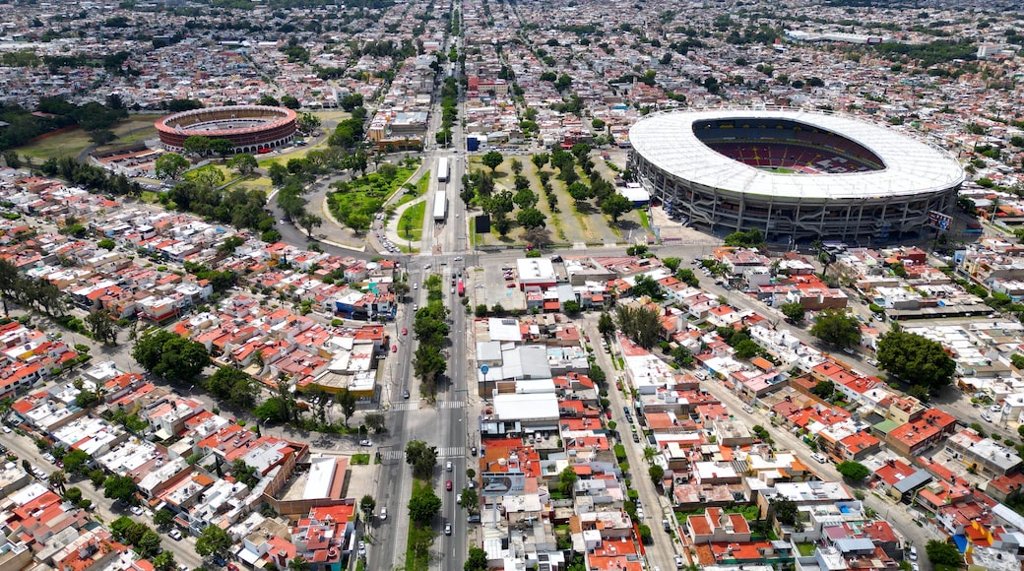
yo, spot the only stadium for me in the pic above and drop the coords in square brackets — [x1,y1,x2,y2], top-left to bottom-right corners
[628,105,965,247]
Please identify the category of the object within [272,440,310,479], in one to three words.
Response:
house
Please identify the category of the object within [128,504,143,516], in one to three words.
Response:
vehicle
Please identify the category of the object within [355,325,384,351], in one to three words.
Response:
building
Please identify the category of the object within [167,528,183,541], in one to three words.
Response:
vehicle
